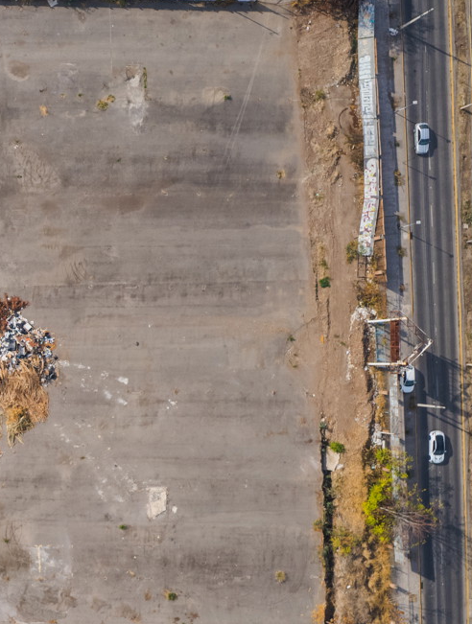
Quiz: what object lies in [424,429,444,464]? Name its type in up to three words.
car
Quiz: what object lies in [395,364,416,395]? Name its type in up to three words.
car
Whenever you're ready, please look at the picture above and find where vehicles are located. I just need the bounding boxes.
[410,121,430,158]
[395,364,416,395]
[424,429,444,464]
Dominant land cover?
paved ground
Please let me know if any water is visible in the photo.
No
